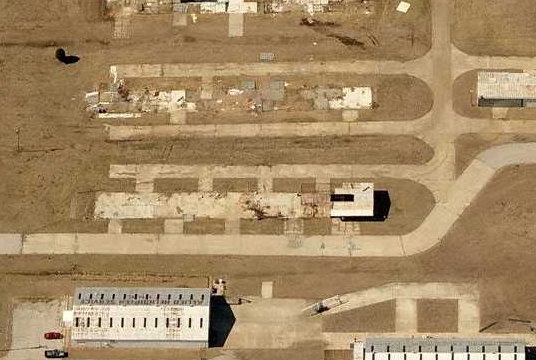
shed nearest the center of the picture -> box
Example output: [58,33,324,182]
[331,183,374,224]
